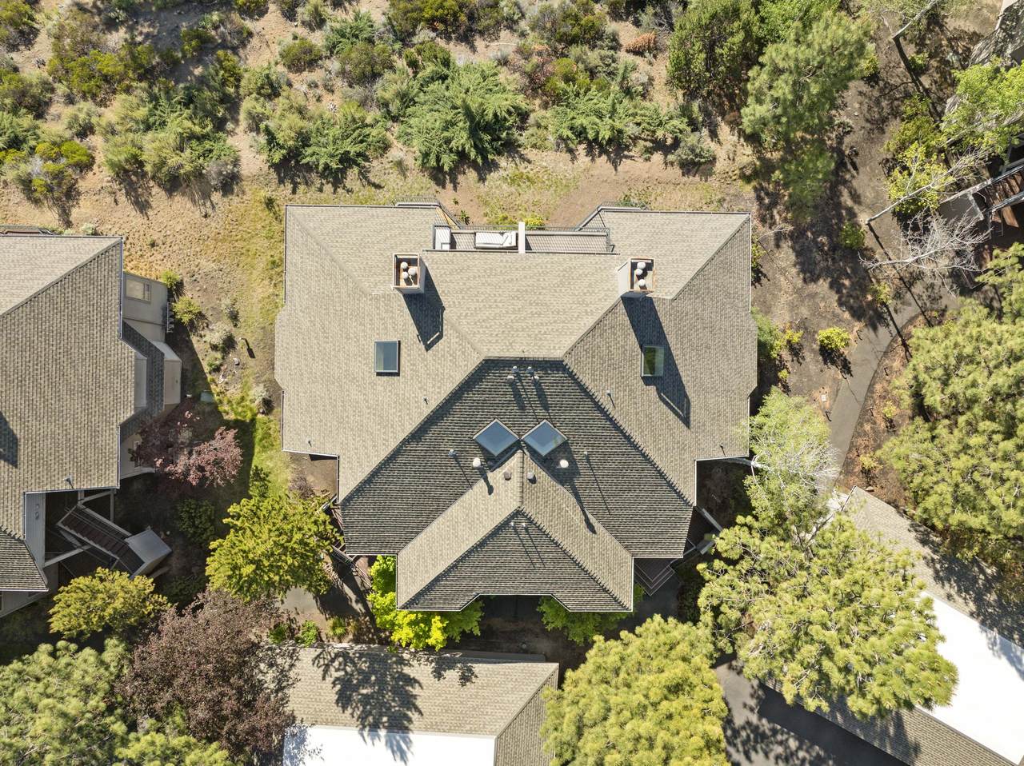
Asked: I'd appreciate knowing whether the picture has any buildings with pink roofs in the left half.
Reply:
No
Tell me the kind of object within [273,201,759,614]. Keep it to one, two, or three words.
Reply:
building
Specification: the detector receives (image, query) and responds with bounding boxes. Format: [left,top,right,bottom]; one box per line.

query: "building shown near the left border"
[0,229,184,622]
